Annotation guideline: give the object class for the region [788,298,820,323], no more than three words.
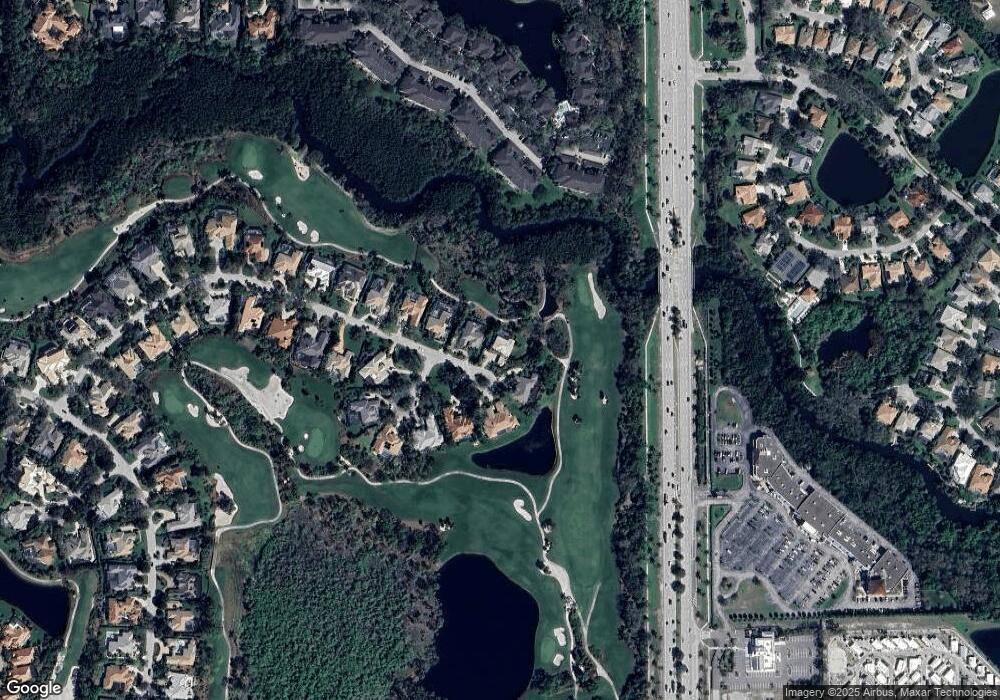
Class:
swimming pool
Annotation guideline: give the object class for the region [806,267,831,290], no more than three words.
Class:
building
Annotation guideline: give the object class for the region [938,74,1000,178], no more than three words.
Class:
pond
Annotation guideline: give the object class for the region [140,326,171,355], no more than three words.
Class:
house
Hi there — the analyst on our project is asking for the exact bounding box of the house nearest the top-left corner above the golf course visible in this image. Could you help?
[27,0,83,56]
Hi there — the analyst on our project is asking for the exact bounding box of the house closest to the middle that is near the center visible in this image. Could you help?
[492,331,519,367]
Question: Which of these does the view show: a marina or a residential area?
residential area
